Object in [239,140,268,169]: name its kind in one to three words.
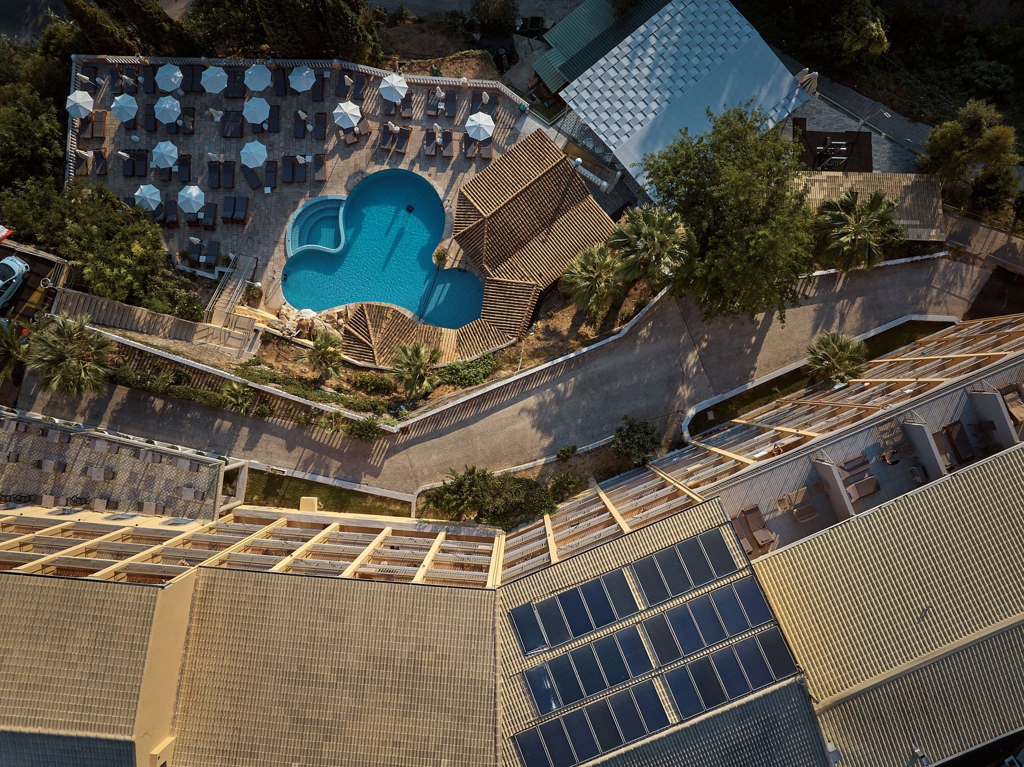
umbrella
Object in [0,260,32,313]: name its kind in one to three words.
car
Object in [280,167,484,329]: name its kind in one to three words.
swimming pool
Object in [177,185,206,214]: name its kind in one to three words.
umbrella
